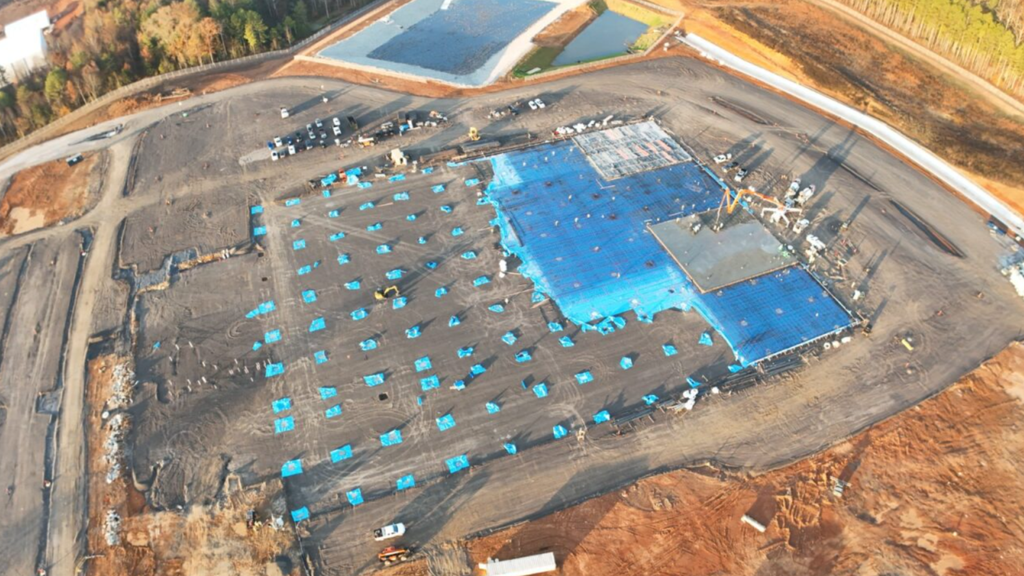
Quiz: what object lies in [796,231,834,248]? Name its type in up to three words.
vehicle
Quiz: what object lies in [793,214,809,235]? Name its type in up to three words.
vehicle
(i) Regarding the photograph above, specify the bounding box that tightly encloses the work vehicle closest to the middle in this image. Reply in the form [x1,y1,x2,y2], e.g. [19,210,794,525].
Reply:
[372,281,400,301]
